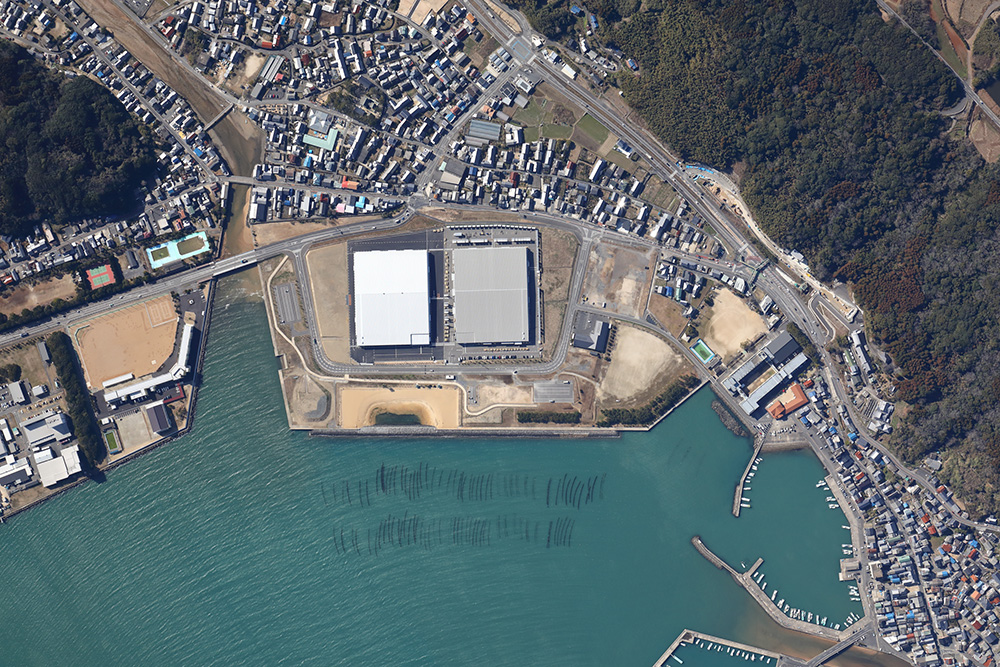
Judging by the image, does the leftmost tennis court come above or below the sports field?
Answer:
above it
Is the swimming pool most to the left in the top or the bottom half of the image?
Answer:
bottom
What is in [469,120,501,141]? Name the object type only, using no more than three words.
greenhouse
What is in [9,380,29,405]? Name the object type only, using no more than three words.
building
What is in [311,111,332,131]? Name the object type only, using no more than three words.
building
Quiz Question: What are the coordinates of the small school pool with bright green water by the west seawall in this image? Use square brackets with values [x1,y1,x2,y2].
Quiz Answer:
[104,430,123,454]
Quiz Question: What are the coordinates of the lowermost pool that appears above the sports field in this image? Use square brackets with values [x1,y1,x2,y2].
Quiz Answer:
[146,231,211,269]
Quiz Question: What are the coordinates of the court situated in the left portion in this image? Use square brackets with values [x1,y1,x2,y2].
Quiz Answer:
[86,264,115,286]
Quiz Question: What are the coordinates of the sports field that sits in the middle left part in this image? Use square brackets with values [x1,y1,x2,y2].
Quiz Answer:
[70,294,178,389]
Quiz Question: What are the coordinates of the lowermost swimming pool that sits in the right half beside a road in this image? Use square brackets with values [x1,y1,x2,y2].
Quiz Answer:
[689,339,715,363]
